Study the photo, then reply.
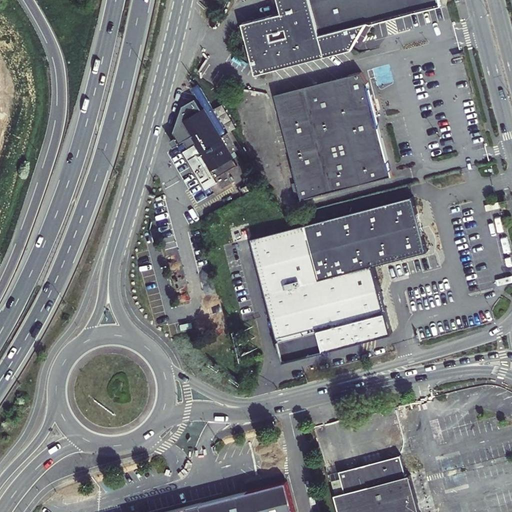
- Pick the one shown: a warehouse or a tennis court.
warehouse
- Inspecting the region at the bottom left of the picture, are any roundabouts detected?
Yes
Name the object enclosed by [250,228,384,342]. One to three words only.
building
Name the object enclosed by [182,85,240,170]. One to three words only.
building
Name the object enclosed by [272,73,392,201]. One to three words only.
warehouse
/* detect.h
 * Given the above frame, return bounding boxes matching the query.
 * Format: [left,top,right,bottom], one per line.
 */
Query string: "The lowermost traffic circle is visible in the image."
[50,330,172,450]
